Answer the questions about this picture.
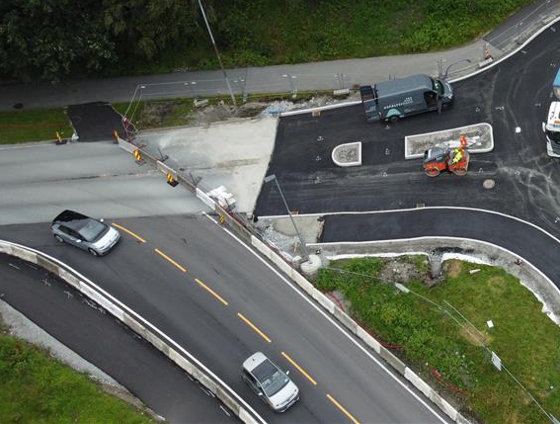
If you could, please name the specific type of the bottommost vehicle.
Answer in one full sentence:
In the photo, the bottommost vehicle shows up as a car.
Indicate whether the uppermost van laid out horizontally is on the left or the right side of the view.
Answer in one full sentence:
It is on the right.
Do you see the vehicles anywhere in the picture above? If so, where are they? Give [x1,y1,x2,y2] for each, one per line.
[237,341,301,412]
[541,68,560,159]
[362,72,457,120]
[421,133,471,175]
[46,210,118,257]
